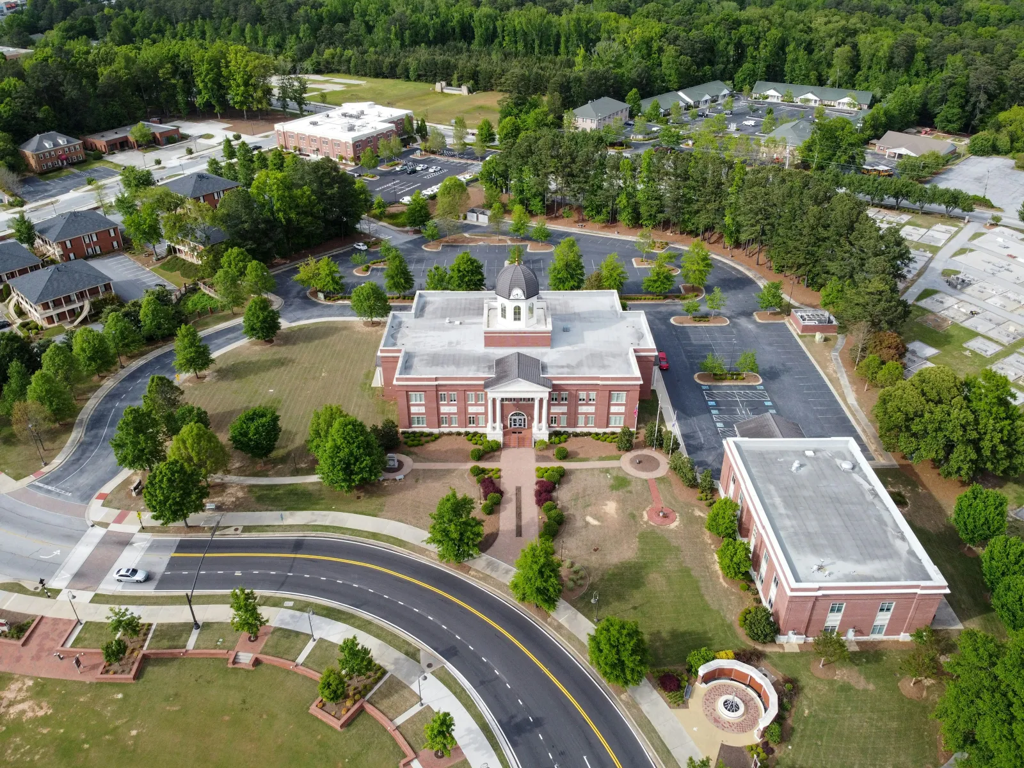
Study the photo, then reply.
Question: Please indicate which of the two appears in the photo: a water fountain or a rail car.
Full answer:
Of the two, only a water fountain appears.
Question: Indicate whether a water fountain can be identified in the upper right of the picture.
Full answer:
No, in the upper right of the picture there is no water fountain.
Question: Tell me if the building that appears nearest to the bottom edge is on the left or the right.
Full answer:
It is on the right.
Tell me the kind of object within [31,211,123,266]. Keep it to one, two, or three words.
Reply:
building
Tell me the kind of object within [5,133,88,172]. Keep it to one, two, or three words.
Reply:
house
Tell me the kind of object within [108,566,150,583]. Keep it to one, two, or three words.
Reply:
car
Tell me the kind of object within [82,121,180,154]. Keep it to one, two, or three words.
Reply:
building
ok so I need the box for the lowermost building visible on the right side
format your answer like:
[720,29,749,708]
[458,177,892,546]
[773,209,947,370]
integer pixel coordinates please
[721,421,951,647]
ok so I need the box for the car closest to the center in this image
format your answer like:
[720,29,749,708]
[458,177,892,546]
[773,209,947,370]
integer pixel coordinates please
[657,355,671,369]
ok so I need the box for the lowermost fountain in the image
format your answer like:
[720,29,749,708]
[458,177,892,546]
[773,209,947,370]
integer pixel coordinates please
[717,691,747,718]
